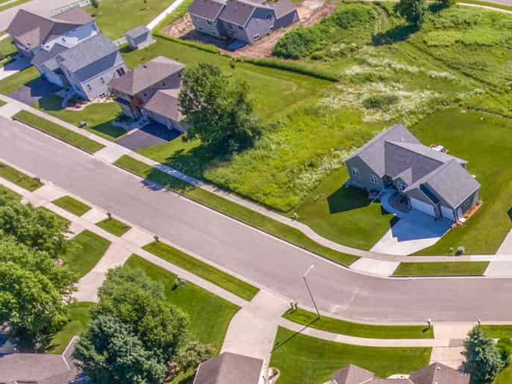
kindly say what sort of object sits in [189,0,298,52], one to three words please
house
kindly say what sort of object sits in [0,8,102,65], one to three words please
house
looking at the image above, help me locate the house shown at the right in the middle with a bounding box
[344,117,487,223]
